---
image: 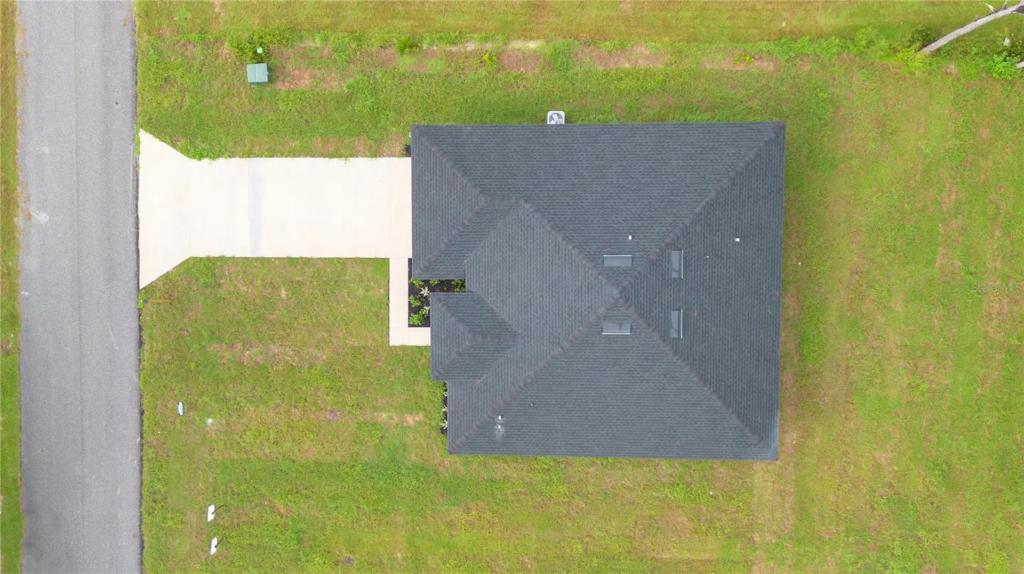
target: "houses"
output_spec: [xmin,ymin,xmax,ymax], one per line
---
[409,119,786,462]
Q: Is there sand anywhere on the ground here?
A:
No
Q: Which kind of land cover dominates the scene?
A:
grass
